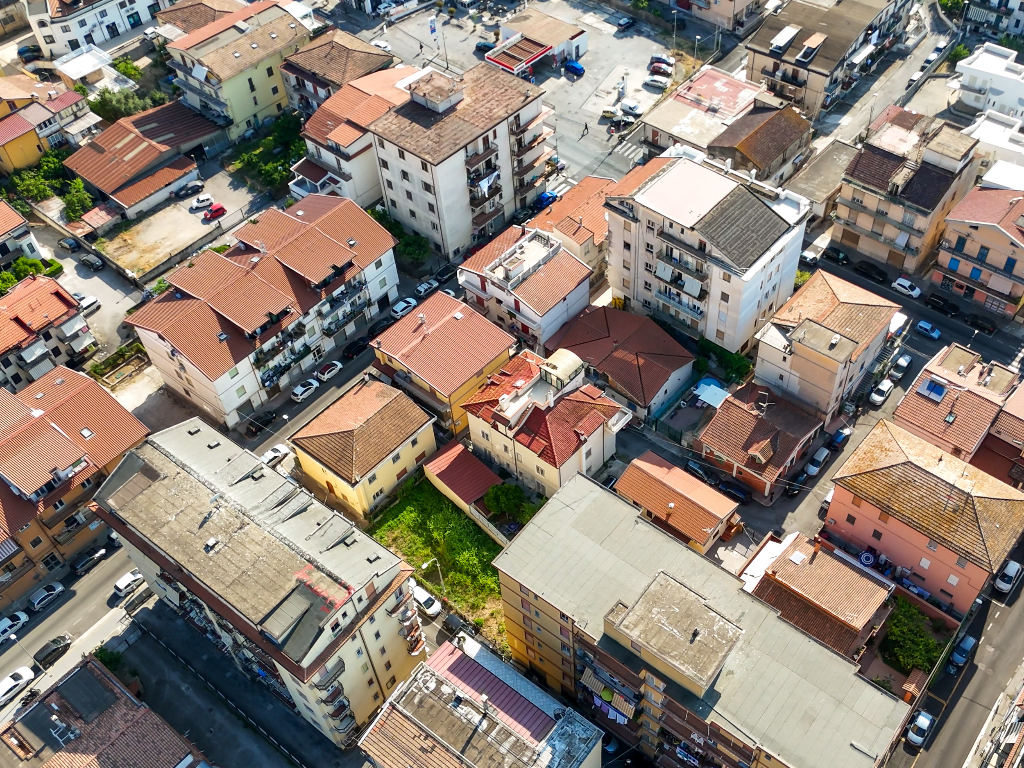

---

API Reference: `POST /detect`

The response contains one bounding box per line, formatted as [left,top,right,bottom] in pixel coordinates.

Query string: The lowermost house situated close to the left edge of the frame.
[0,643,210,768]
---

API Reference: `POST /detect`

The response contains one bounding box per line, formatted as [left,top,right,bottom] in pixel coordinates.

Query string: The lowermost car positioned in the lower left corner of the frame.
[0,665,37,706]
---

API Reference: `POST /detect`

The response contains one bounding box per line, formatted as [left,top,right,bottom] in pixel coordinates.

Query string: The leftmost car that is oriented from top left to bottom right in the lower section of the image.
[274,464,306,490]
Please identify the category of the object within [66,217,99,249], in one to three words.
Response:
shed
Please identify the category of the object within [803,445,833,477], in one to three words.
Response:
car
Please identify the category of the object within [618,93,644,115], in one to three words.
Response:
vehicle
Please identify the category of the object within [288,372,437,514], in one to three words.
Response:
house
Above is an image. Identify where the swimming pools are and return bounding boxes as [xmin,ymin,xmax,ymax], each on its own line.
[689,370,729,399]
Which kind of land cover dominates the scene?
buildings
